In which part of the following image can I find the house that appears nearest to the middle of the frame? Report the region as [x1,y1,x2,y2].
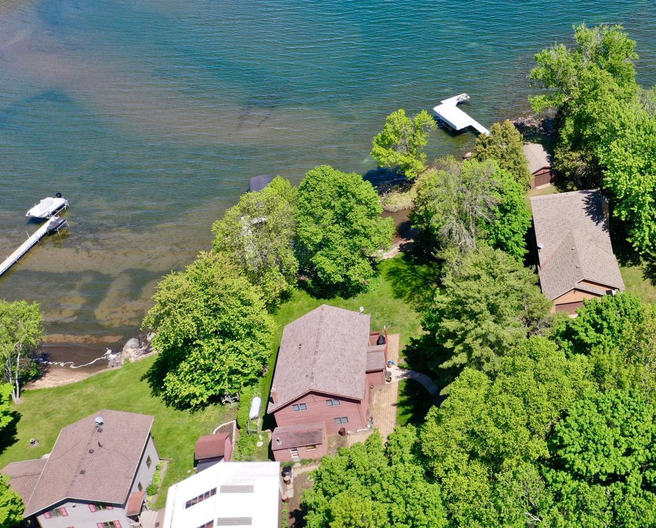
[266,304,389,433]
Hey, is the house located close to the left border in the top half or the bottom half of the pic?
bottom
